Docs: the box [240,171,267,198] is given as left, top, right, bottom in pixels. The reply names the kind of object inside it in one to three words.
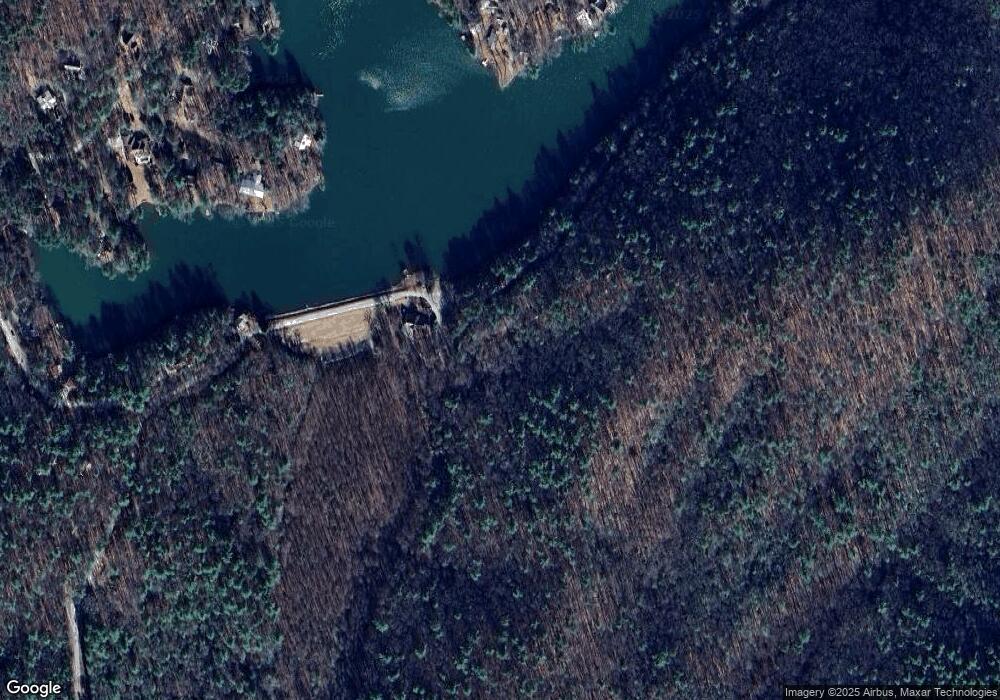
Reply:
house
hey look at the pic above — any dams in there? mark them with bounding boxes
[259,282,406,352]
